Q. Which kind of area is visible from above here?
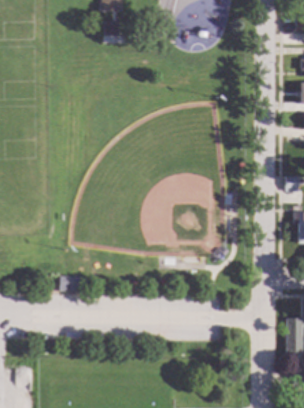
sports ground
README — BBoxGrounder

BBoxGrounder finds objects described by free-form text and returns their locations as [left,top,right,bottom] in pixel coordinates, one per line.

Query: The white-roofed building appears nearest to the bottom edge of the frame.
[16,366,32,386]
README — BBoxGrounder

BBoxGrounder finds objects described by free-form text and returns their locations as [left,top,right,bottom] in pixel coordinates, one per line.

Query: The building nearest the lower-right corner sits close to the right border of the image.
[285,318,304,353]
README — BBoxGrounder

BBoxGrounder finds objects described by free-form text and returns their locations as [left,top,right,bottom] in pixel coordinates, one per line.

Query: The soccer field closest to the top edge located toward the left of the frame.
[0,0,43,43]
